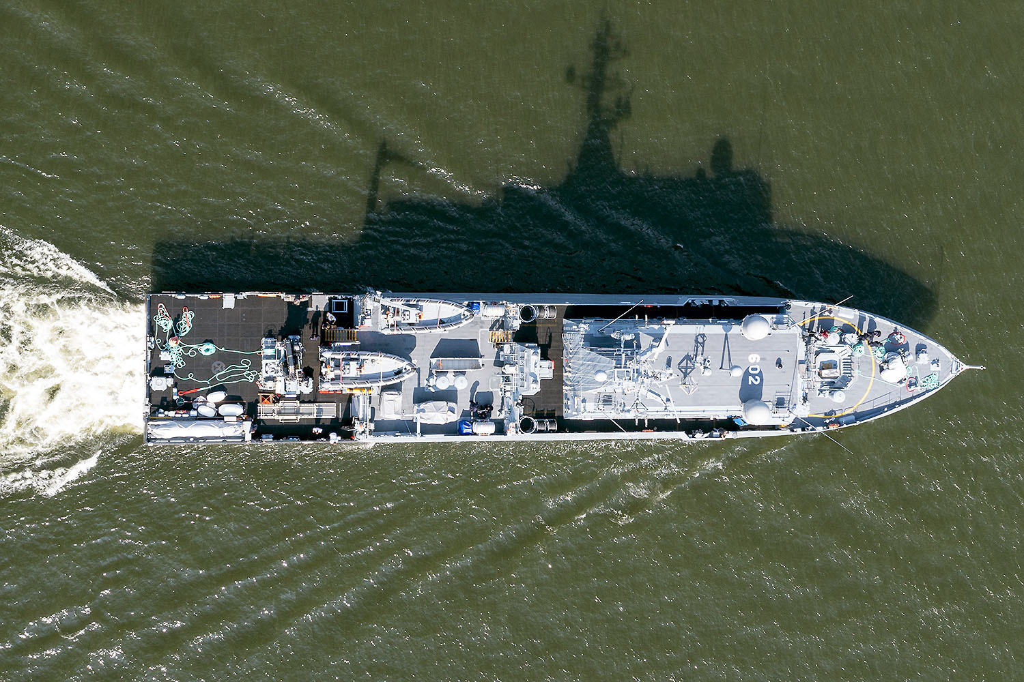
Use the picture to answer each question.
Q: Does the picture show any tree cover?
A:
No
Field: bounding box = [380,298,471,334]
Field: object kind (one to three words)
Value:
boat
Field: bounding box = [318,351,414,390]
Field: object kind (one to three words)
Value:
boat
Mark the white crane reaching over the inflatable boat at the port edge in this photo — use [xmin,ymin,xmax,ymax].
[362,290,428,314]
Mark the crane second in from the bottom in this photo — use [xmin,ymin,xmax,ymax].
[276,336,312,397]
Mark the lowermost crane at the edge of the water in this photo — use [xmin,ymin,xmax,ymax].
[349,390,376,441]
